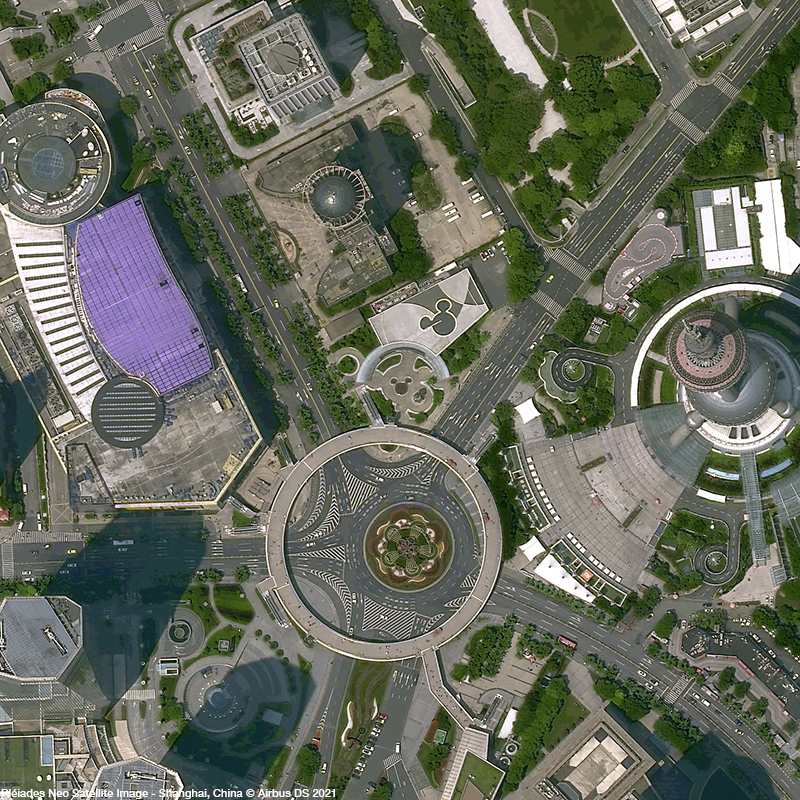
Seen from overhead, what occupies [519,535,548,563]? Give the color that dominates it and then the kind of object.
white tent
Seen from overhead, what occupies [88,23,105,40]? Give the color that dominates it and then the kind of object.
white vehicle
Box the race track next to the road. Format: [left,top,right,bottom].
[602,220,684,306]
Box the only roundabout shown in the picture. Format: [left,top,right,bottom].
[284,444,484,644]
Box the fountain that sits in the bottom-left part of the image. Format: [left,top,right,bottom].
[157,607,207,657]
